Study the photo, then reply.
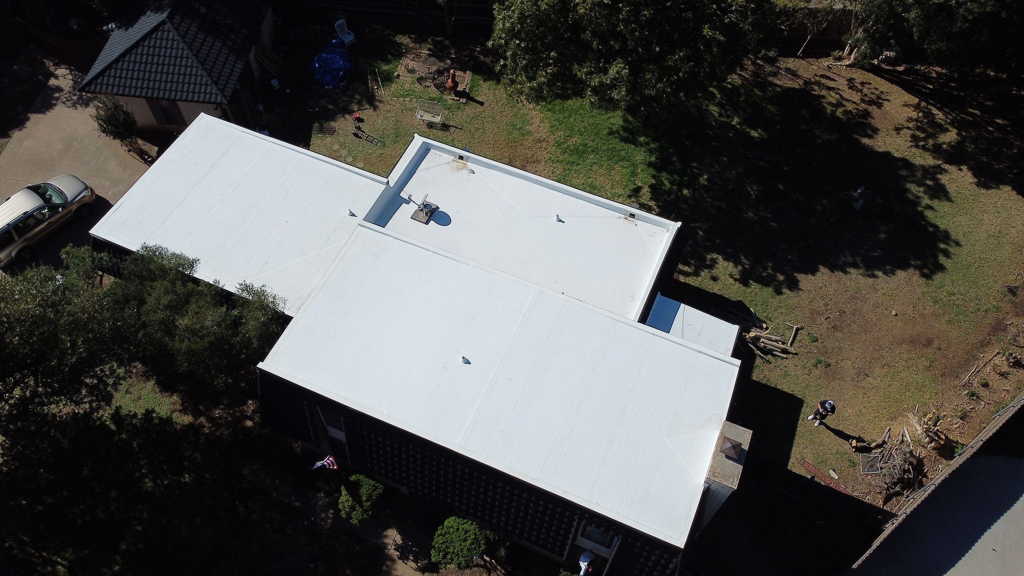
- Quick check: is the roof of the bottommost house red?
No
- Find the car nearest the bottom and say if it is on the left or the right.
left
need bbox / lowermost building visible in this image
[87,113,755,576]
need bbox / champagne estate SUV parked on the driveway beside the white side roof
[0,179,95,268]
